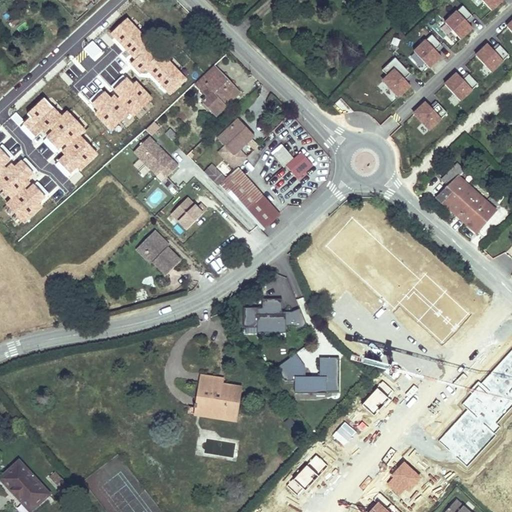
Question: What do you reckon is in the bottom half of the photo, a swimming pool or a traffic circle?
swimming pool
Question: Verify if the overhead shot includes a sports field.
Yes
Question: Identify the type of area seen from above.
residential area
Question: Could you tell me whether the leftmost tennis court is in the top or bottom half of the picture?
bottom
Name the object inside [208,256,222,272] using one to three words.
vehicle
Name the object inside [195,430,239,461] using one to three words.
swimming pool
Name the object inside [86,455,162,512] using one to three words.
tennis court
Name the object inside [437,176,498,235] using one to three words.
house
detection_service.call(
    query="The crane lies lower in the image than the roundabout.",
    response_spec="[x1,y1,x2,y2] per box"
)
[351,354,512,400]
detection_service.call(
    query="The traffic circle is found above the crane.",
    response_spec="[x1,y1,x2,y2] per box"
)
[334,132,396,193]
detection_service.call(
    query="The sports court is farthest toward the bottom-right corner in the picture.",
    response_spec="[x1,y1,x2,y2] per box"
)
[399,274,472,346]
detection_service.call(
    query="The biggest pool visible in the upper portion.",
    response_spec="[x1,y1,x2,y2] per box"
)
[145,186,168,210]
